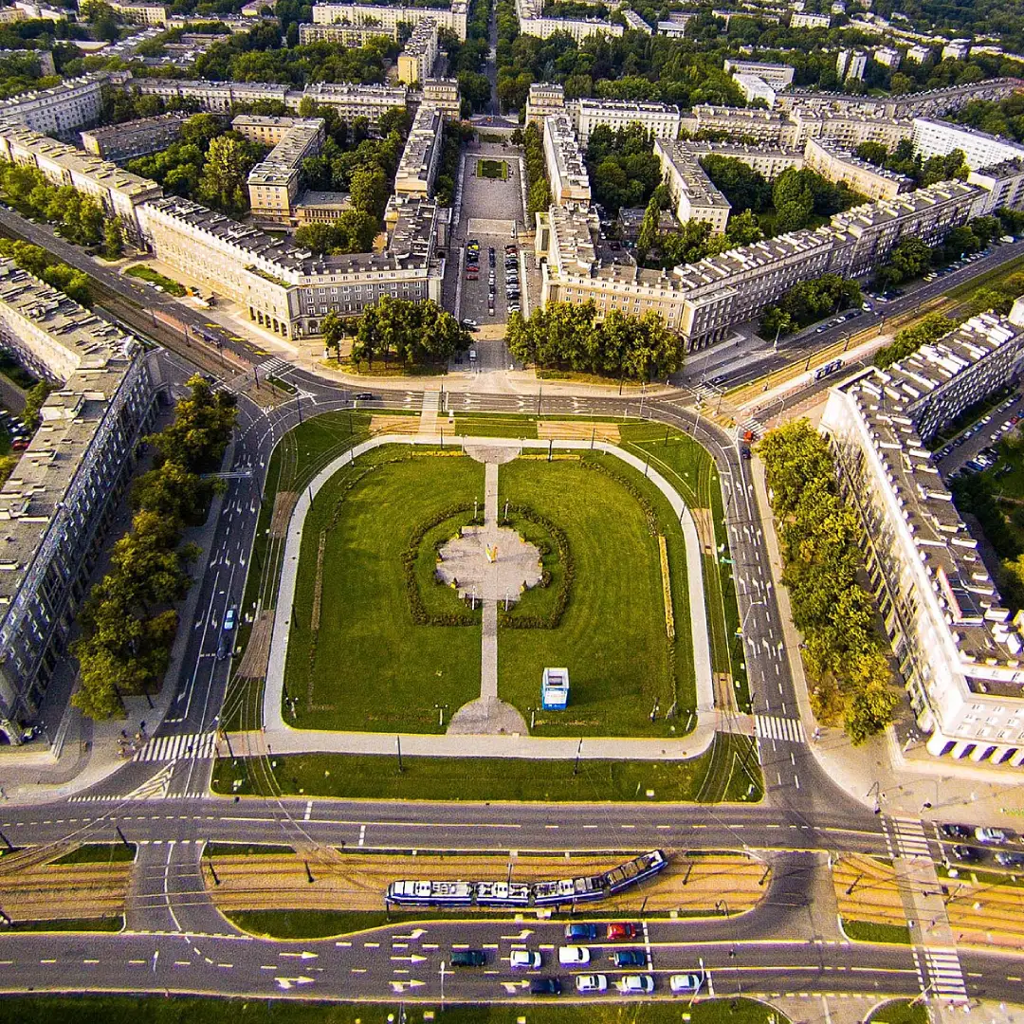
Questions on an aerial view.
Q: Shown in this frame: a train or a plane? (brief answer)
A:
train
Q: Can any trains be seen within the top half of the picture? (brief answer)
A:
No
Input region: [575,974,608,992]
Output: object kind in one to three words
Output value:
car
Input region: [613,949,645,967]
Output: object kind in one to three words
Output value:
car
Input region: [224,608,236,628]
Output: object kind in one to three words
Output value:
vehicle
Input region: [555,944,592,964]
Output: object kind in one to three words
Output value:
vehicle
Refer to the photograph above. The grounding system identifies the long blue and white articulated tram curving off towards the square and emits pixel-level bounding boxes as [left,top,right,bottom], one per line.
[387,851,669,908]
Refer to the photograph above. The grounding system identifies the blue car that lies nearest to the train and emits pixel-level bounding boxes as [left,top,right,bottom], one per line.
[565,922,596,940]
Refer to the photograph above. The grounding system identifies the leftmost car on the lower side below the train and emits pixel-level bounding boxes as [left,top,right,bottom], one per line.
[451,949,483,968]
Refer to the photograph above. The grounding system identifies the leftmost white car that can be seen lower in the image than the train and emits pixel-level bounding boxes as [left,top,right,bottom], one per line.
[510,950,541,969]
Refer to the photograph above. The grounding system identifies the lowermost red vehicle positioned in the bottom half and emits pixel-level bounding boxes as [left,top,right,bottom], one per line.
[606,921,638,939]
